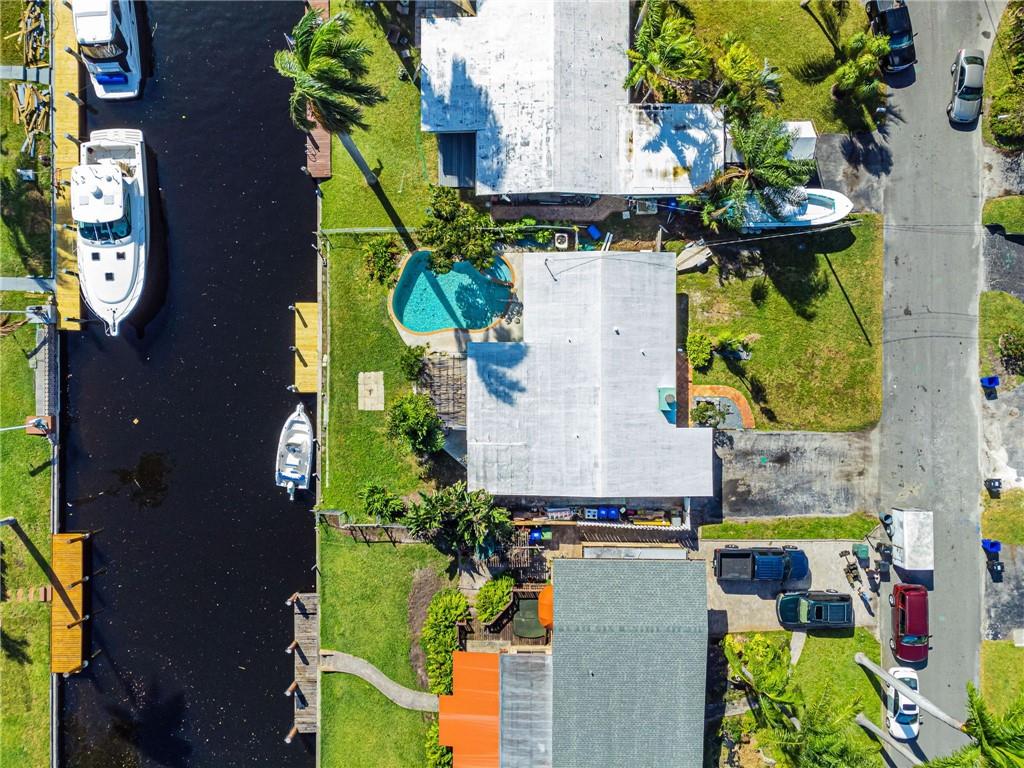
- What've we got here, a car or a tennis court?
car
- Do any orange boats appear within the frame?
No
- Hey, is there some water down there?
Yes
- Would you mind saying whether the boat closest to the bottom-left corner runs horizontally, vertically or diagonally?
vertically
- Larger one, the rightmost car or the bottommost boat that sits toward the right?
the car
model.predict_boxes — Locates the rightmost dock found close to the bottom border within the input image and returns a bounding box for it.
[293,592,318,733]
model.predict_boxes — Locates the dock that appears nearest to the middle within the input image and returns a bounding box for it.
[295,303,317,392]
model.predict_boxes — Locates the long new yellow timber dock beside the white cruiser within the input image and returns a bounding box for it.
[55,0,88,330]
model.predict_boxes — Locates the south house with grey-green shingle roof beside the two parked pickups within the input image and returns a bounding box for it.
[551,541,709,768]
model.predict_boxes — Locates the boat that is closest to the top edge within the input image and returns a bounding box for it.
[64,0,145,104]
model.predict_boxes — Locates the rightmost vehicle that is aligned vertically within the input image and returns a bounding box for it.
[943,47,986,127]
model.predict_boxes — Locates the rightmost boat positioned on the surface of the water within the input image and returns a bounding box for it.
[277,402,315,501]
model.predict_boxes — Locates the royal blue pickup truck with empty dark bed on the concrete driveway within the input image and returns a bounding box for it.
[708,547,809,587]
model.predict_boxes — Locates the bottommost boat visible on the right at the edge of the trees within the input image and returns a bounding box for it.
[676,232,720,277]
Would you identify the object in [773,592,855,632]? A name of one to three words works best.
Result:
car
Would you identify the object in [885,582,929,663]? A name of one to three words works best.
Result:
car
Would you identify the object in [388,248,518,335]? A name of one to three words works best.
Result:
swimming pool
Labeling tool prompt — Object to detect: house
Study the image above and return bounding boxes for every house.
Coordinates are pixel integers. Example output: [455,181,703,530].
[551,541,709,768]
[467,251,713,498]
[421,0,725,205]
